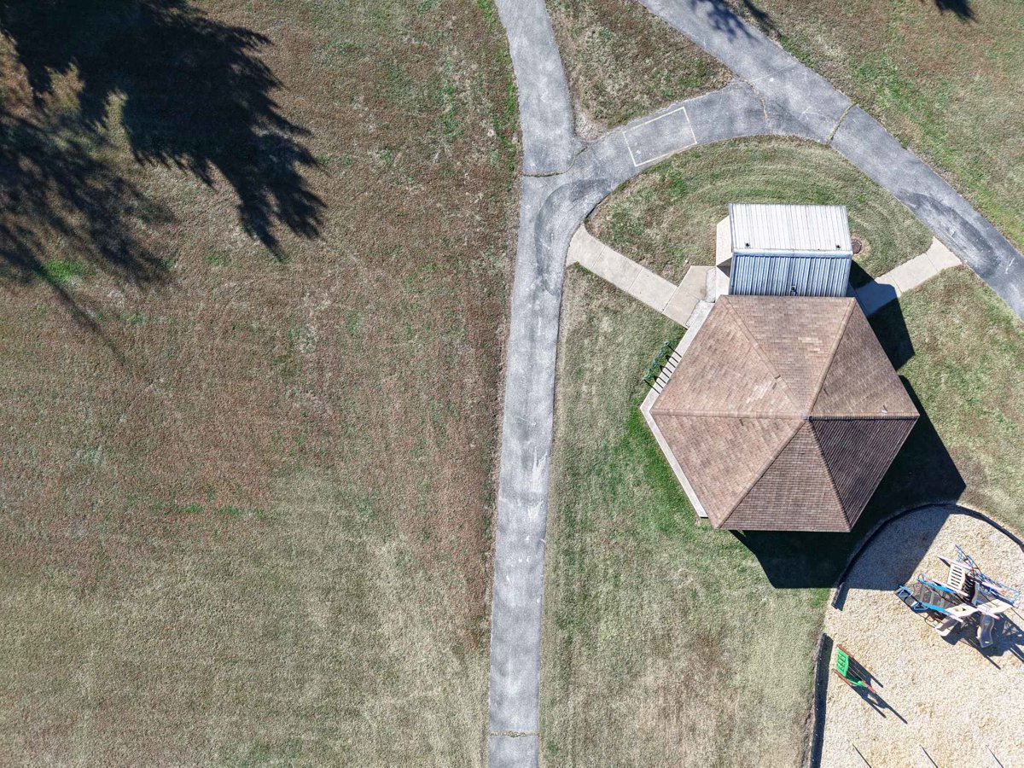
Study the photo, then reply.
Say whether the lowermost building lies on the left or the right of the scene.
right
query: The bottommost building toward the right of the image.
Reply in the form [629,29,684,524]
[640,294,921,533]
